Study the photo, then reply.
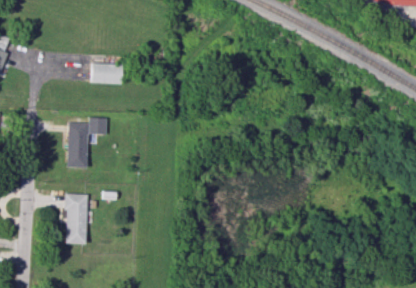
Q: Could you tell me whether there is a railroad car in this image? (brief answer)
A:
No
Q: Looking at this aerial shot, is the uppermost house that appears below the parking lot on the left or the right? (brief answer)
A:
left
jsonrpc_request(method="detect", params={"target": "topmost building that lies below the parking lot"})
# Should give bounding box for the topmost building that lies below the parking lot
[68,118,108,168]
